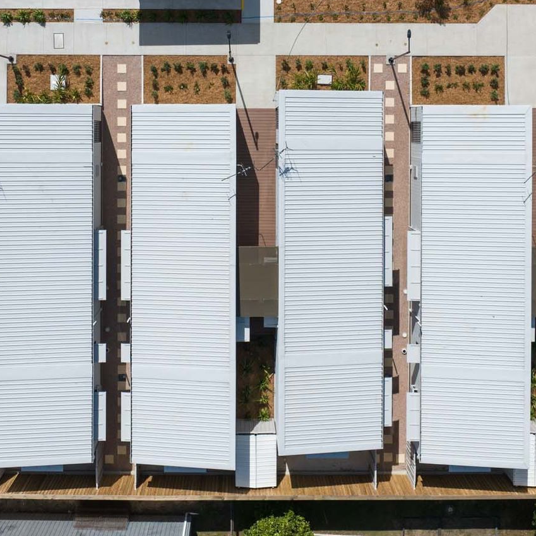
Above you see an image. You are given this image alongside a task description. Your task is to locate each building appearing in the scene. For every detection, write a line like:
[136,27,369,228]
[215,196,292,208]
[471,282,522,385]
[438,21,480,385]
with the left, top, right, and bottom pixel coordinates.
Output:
[407,105,534,473]
[0,511,190,536]
[121,104,250,473]
[0,104,105,472]
[264,90,392,459]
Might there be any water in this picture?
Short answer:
No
